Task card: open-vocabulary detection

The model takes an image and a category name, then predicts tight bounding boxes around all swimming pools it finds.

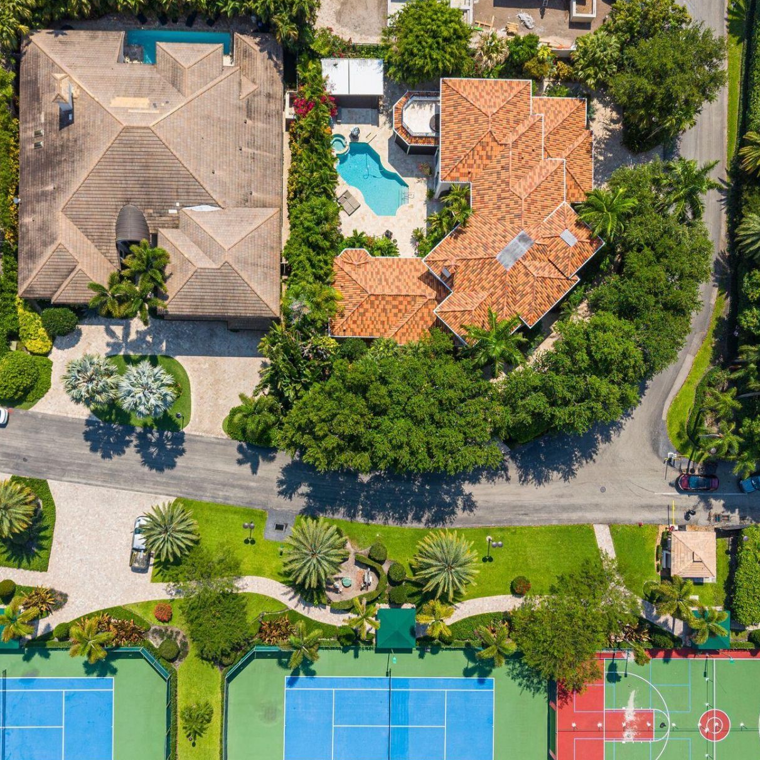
[124,28,233,65]
[332,134,351,155]
[335,140,411,218]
